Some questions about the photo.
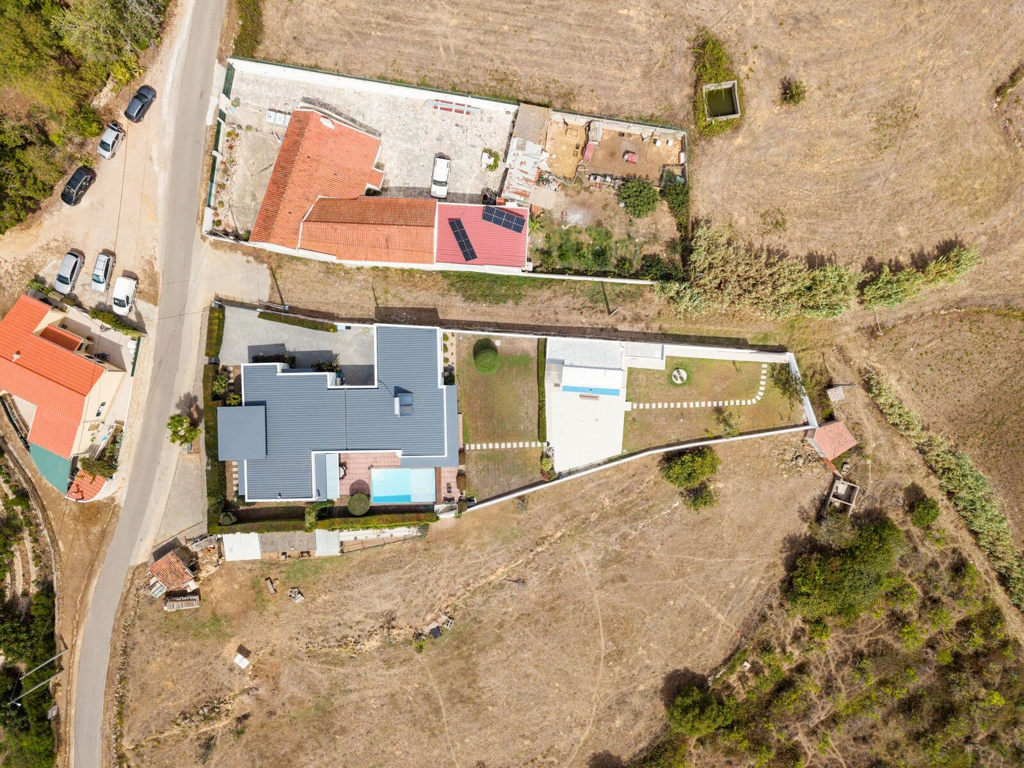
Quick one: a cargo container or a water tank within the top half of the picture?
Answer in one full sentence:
It is a water tank that can be seen within the top half of the picture.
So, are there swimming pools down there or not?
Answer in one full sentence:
Yes, the image includes a swimming pool.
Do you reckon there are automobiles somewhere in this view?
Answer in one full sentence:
Yes, there's an automobile down there.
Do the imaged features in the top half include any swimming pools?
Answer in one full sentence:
No, the scene shows no swimming pool in the top half.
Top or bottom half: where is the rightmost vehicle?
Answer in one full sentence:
It is in the top half that the rightmost vehicle appears.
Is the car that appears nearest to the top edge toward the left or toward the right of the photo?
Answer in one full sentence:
You can find the car that appears nearest to the top edge on the left side of the picture.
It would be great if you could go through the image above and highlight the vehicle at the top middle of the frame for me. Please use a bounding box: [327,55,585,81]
[430,153,451,199]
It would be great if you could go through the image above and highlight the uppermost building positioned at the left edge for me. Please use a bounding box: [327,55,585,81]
[0,293,129,461]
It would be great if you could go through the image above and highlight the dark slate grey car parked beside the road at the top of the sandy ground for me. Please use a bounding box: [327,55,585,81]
[124,84,157,124]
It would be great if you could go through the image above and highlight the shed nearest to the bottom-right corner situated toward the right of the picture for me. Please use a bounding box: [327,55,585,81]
[806,421,858,461]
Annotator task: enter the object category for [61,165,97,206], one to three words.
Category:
car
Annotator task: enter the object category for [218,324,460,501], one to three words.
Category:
house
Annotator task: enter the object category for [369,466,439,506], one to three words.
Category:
swimming pool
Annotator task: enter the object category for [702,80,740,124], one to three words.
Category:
water tank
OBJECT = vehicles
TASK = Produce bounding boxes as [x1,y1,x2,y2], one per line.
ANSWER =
[124,84,157,124]
[90,251,116,293]
[55,251,86,293]
[99,118,127,160]
[61,165,97,206]
[430,153,451,199]
[111,275,138,316]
